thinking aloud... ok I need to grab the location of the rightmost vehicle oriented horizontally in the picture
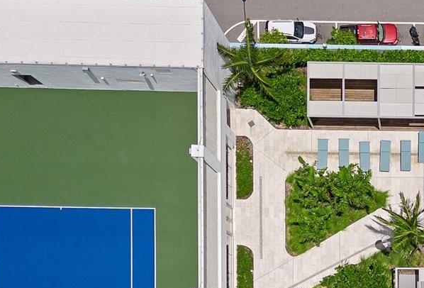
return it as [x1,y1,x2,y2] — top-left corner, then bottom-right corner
[340,19,399,44]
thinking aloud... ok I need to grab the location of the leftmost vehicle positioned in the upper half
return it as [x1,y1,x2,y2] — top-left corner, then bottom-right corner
[269,18,319,44]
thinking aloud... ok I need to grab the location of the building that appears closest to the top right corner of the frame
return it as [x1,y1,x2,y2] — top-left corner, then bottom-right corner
[307,62,424,132]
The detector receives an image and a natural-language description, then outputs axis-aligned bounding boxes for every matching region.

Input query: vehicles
[340,19,399,44]
[410,24,418,44]
[269,18,319,44]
